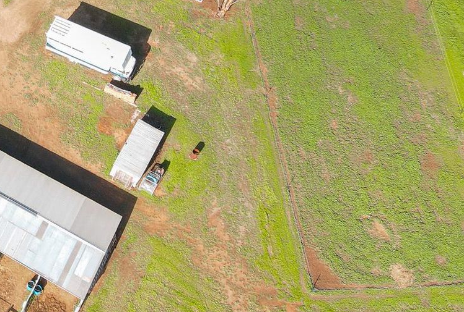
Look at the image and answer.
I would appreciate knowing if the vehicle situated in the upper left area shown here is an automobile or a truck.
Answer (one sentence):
I'd identify the vehicle situated in the upper left area as a truck.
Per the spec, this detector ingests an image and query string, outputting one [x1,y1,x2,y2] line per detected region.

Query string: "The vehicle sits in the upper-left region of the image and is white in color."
[42,16,136,87]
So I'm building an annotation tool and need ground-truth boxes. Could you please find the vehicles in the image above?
[141,147,171,197]
[42,16,136,87]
